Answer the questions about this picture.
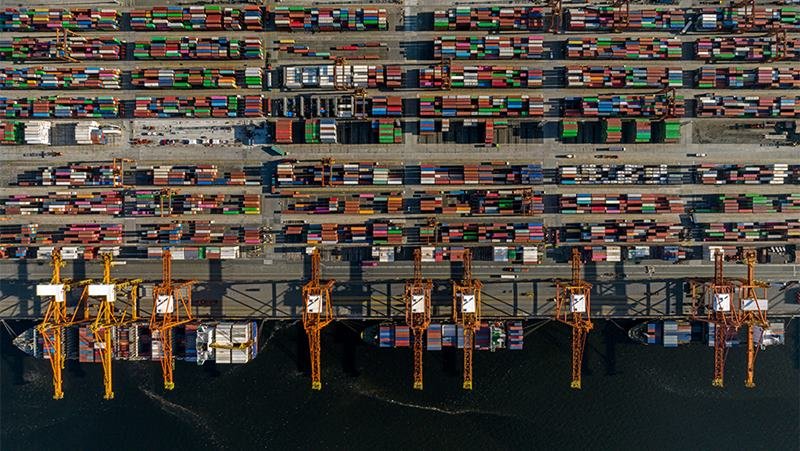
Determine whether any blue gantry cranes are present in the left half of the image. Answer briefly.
No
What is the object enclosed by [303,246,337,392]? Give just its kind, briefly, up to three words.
container crane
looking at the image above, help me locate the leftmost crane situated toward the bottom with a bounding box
[36,249,99,402]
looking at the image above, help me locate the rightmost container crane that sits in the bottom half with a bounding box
[708,246,771,392]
